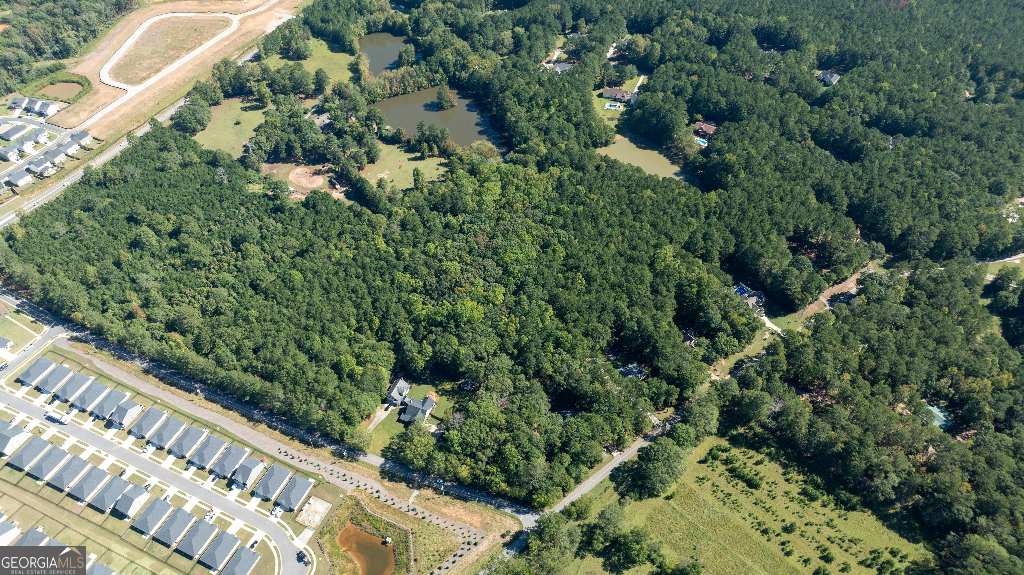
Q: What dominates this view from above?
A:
trees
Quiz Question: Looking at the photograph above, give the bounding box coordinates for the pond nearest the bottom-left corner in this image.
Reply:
[338,523,395,575]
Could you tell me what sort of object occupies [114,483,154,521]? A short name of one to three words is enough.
house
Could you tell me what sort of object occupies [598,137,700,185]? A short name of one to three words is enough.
pond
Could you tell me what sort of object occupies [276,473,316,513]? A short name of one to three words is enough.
house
